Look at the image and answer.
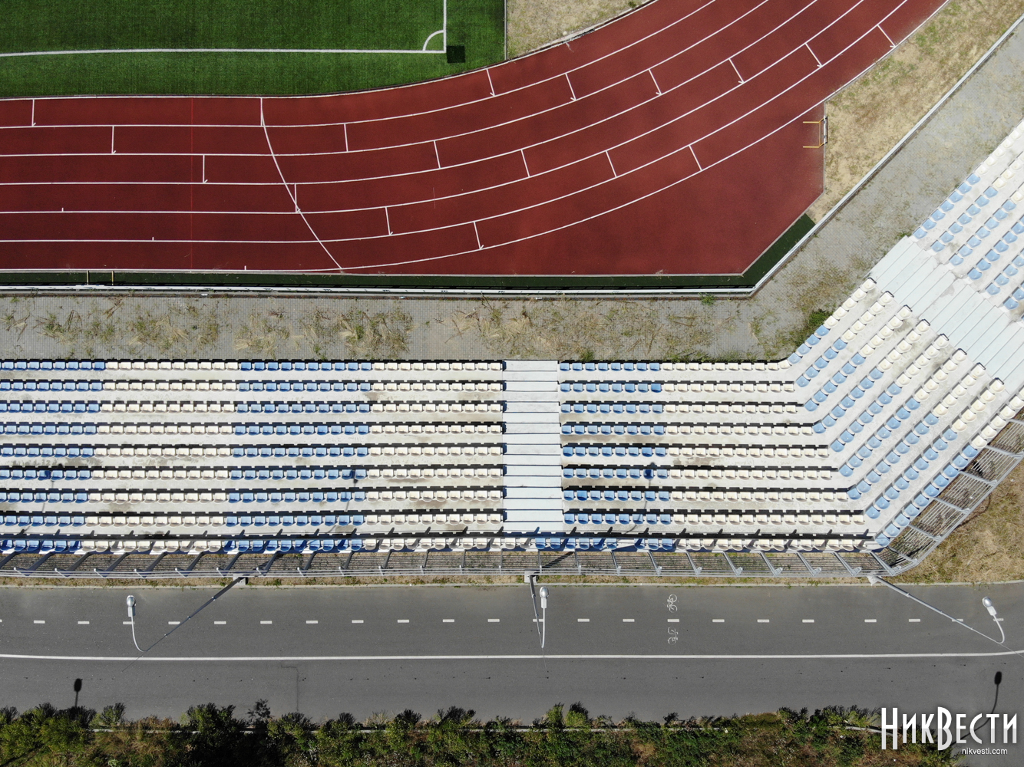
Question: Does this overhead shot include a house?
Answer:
No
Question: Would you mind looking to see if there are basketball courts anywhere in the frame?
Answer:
No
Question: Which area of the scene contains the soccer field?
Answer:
top left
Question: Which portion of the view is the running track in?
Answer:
top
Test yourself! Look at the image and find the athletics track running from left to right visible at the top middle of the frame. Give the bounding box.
[0,0,956,277]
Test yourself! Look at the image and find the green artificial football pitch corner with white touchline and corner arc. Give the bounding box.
[0,0,508,94]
